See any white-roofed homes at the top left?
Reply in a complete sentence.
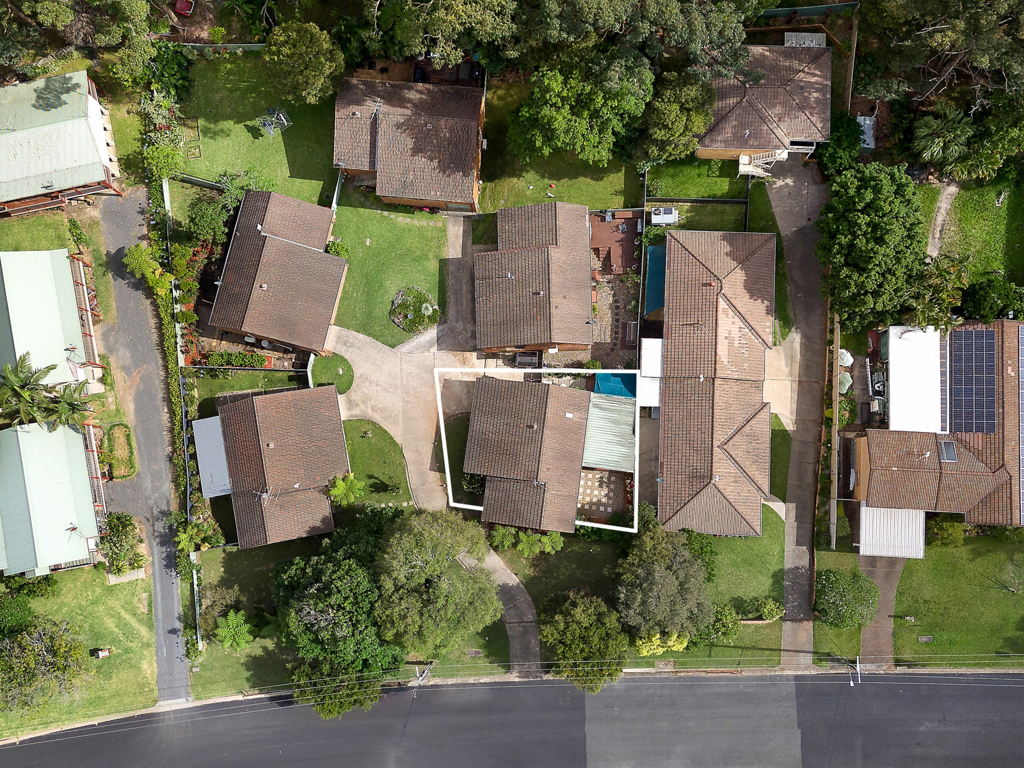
Yes, a white-roofed home is visible at the top left.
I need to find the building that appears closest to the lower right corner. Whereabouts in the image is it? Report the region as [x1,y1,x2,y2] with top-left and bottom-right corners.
[849,319,1024,559]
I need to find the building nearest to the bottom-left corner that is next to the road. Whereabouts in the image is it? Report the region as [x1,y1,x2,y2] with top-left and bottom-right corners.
[0,421,121,580]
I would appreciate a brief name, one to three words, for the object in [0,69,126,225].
house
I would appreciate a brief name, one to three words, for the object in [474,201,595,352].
house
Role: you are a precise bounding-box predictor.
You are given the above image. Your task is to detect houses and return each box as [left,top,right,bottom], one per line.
[0,421,121,580]
[192,385,352,549]
[849,319,1024,559]
[333,76,486,212]
[208,191,348,352]
[0,69,126,225]
[638,230,777,537]
[0,248,113,388]
[474,201,595,352]
[463,377,636,533]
